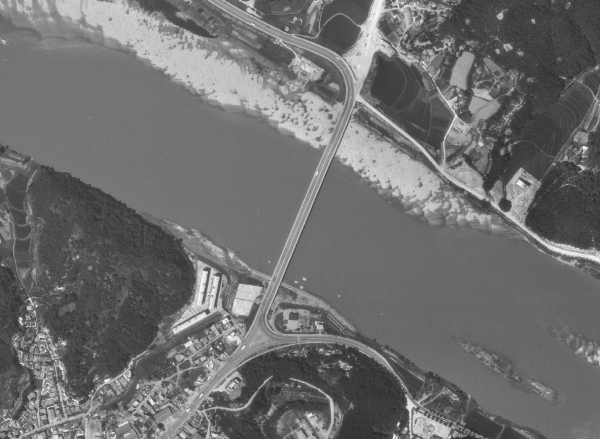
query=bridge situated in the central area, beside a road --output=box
[268,91,356,289]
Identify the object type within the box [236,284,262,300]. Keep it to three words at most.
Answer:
building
